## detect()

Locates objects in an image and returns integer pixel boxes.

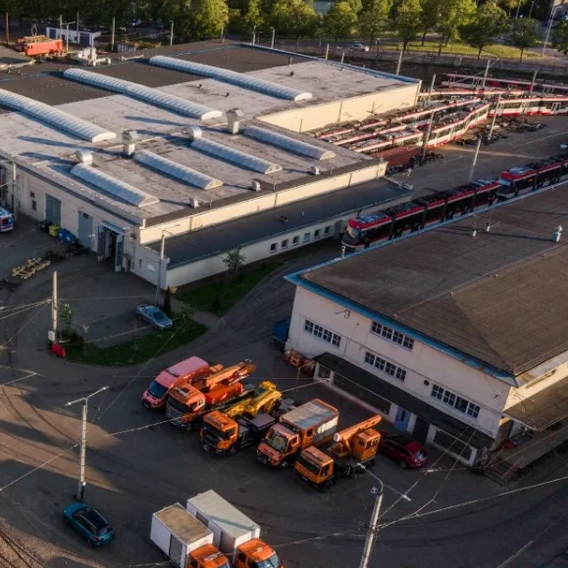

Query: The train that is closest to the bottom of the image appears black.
[325,182,493,254]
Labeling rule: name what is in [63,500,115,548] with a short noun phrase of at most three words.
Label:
car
